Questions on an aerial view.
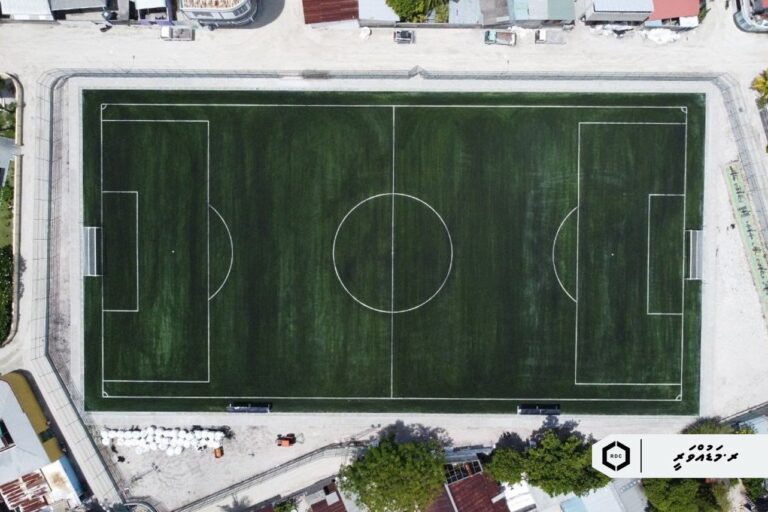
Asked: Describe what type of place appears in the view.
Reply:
sports ground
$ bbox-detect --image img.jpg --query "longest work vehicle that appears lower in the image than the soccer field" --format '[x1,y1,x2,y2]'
[278,434,305,448]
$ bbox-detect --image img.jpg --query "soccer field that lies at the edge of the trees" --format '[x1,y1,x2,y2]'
[81,88,707,418]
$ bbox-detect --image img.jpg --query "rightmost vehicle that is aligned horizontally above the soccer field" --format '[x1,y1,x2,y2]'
[534,28,568,44]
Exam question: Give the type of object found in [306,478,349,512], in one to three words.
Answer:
house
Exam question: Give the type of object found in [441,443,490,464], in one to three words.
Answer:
house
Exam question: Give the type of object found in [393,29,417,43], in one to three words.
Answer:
vehicle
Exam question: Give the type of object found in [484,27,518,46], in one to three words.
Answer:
vehicle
